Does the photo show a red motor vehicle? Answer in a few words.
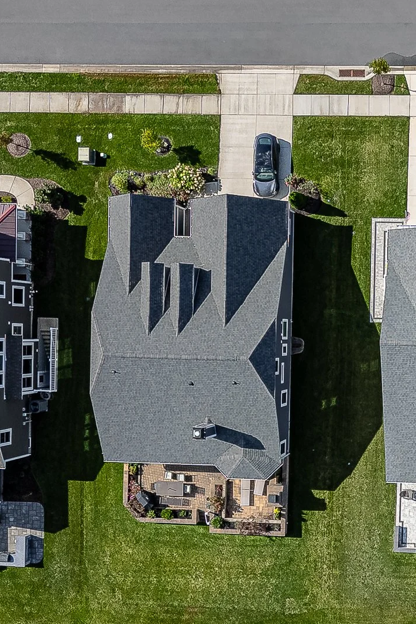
No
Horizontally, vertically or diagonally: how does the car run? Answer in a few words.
vertically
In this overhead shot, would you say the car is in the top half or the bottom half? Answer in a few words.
top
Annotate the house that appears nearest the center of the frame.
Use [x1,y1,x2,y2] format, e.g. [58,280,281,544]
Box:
[89,194,297,481]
